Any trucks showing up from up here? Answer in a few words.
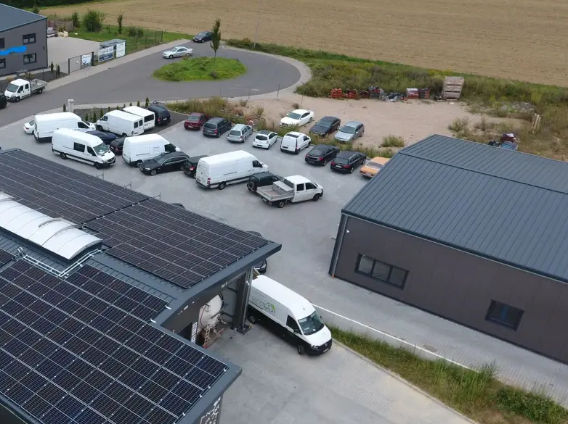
Yes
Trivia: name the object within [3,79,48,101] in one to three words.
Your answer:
truck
